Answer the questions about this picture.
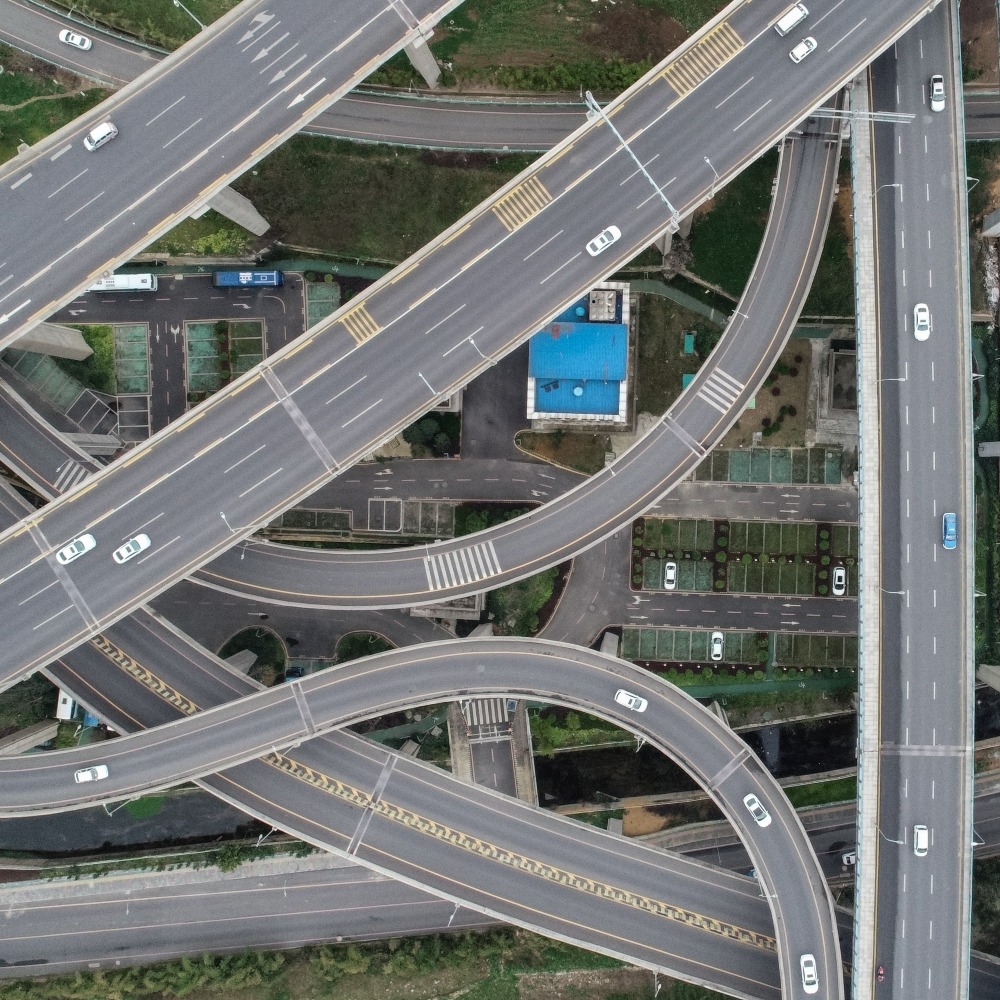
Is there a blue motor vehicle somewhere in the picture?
Yes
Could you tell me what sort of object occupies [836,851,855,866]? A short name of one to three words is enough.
car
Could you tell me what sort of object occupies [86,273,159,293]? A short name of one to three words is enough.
vehicle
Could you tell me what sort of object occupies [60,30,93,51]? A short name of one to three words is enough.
car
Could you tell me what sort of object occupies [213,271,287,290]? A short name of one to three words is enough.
vehicle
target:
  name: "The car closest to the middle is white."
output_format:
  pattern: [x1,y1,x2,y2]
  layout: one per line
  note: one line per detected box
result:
[664,562,677,589]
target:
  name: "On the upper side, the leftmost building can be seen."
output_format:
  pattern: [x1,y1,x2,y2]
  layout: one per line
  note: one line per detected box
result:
[428,386,467,412]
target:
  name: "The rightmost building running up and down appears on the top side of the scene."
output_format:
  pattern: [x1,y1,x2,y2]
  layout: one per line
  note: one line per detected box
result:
[816,338,858,437]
